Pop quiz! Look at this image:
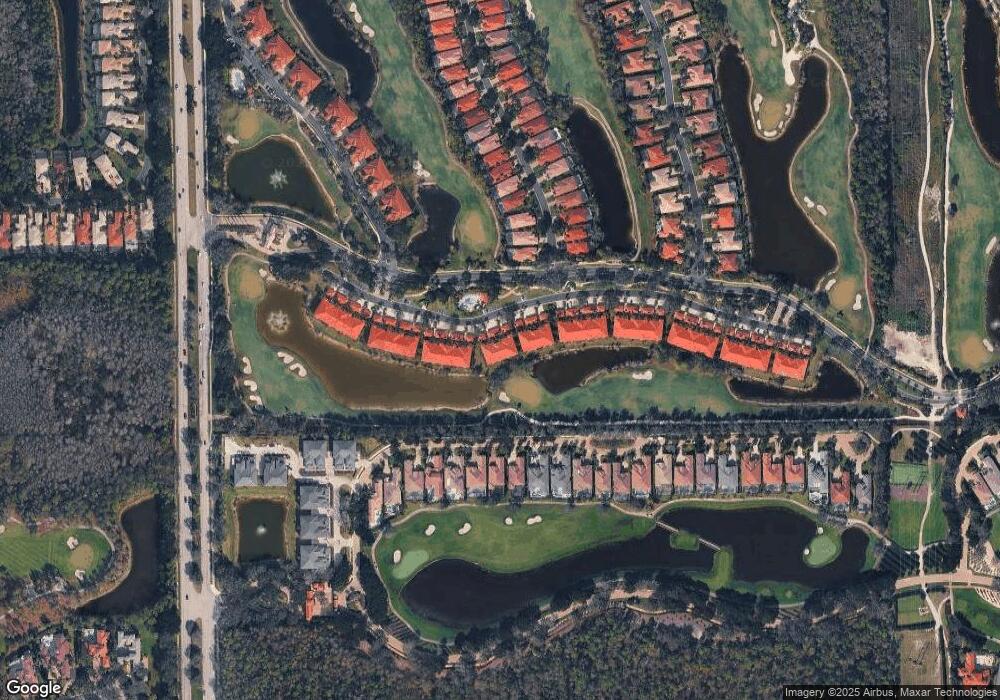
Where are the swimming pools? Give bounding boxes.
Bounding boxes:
[456,291,479,309]
[230,69,244,92]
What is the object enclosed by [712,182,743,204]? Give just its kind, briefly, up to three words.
house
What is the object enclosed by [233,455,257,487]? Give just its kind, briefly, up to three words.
building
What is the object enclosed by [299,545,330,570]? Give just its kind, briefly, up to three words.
building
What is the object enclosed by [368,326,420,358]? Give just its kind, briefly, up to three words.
house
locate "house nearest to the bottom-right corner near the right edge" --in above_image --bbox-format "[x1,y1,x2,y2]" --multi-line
[958,653,993,692]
